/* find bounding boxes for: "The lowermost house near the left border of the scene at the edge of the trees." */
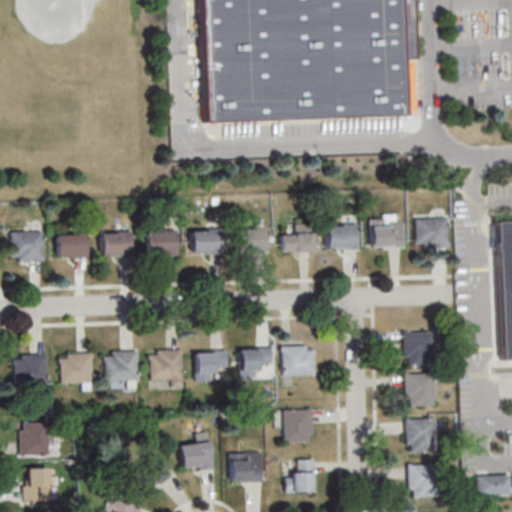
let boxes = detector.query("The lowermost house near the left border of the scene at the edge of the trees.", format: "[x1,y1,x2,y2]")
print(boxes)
[23,468,55,504]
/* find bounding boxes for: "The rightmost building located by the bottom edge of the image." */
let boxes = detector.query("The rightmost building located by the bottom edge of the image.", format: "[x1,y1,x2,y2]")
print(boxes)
[477,474,512,501]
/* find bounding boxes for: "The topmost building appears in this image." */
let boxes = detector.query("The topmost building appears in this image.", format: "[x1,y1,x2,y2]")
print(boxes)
[202,0,423,122]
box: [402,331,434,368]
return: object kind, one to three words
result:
house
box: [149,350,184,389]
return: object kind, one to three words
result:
house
